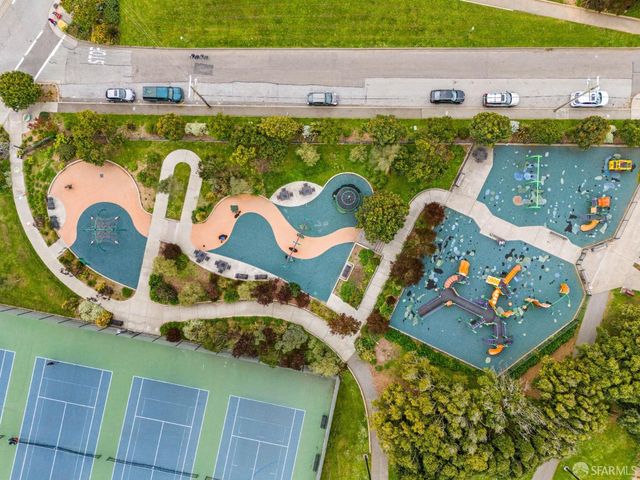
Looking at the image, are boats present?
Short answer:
No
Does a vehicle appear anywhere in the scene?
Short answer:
Yes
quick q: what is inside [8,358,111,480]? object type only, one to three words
tennis court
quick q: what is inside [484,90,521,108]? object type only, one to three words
car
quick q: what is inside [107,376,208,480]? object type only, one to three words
tennis court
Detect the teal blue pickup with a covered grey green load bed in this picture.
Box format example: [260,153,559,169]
[138,84,184,102]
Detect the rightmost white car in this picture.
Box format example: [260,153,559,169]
[572,89,611,107]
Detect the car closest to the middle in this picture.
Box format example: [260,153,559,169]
[306,89,339,106]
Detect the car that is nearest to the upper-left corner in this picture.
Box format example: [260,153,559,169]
[102,86,134,102]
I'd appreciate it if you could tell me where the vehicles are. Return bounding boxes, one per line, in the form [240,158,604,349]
[306,89,339,106]
[484,90,521,108]
[138,84,184,102]
[102,86,134,102]
[572,89,611,107]
[431,88,466,104]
